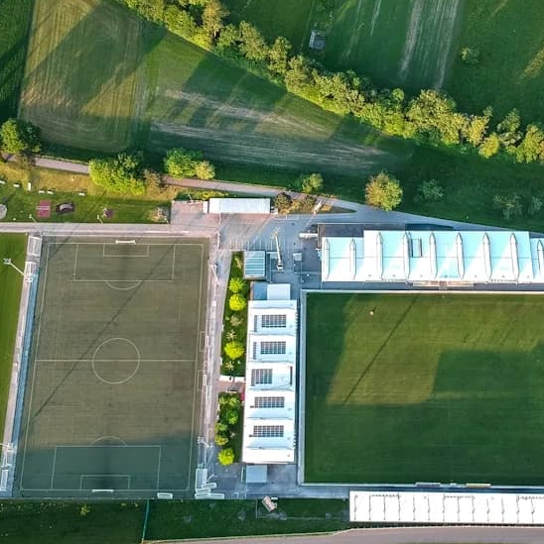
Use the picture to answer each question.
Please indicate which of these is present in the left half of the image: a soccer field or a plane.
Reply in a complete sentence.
Visible in the left half of the image is a soccer field.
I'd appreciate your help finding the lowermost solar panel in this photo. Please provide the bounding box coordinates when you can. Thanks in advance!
[253,423,285,436]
